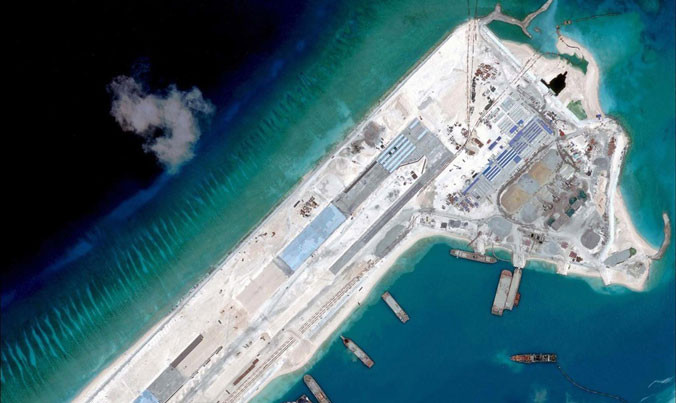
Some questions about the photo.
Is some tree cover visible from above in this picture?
No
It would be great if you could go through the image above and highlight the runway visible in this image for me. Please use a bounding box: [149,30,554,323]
[127,118,456,403]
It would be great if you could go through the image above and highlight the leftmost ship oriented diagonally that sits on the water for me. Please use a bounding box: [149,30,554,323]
[303,375,330,403]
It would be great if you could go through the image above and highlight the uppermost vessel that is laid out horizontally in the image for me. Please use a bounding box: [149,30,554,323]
[450,249,497,263]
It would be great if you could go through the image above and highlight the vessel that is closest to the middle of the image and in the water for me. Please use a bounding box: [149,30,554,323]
[382,292,409,322]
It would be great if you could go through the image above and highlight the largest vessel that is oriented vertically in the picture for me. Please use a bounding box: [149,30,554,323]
[492,271,512,315]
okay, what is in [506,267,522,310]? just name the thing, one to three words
ship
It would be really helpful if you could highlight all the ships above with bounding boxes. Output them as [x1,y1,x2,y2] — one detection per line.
[382,292,409,322]
[510,355,557,362]
[450,249,497,263]
[303,375,330,403]
[341,336,372,367]
[492,271,512,315]
[506,267,522,310]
